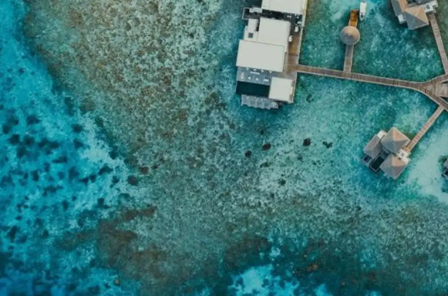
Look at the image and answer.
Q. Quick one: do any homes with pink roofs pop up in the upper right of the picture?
No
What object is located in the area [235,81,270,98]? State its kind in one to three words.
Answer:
swimming pool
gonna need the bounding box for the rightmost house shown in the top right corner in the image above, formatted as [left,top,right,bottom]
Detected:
[391,0,440,33]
